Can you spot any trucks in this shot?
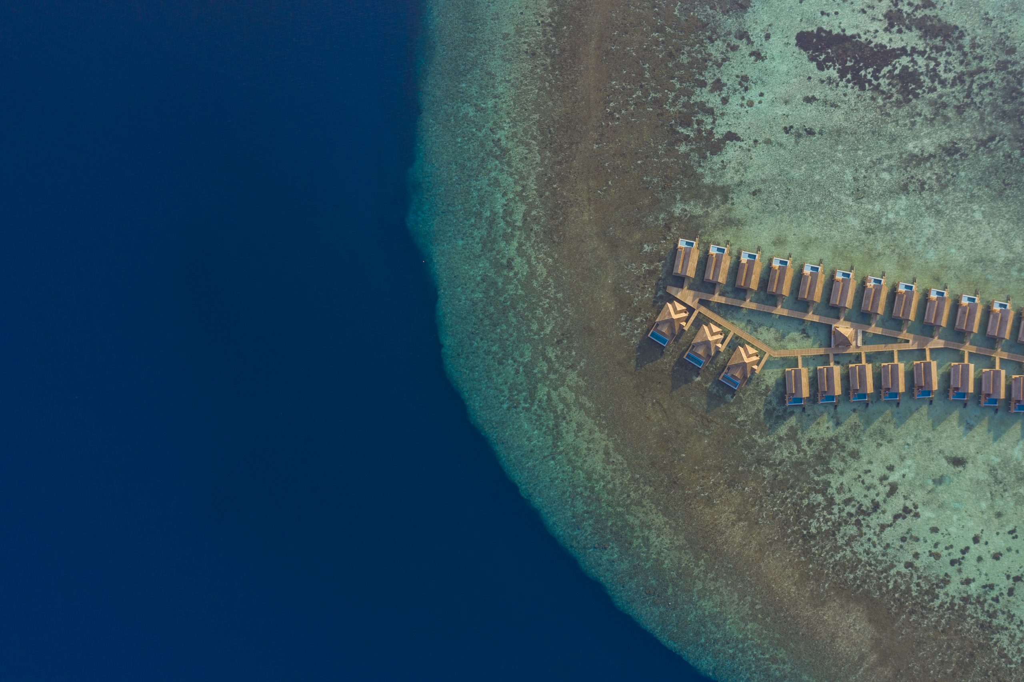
No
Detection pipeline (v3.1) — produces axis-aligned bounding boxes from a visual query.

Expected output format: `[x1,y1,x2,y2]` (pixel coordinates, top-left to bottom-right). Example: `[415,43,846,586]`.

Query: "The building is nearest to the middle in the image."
[647,300,690,353]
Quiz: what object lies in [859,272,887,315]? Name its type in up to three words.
house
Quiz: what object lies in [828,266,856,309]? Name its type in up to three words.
house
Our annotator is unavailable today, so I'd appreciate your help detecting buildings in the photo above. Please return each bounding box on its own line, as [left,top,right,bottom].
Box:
[797,259,825,303]
[978,368,1005,413]
[816,365,841,409]
[828,266,856,309]
[911,360,937,404]
[879,362,905,406]
[985,296,1013,340]
[683,322,726,374]
[784,367,809,411]
[859,272,887,315]
[704,242,731,285]
[890,278,919,322]
[647,300,690,353]
[673,236,700,278]
[718,344,761,395]
[735,248,762,291]
[922,284,950,327]
[847,363,873,407]
[767,254,794,297]
[954,290,982,334]
[1009,375,1024,413]
[1016,305,1024,345]
[946,362,974,407]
